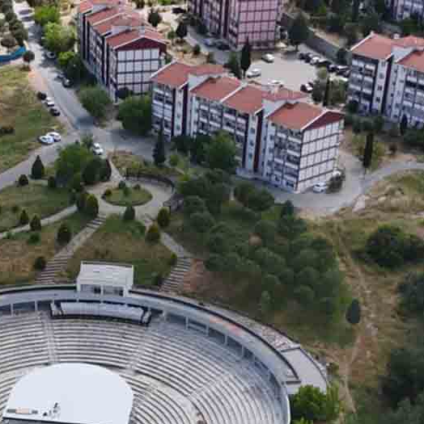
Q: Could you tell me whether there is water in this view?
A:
No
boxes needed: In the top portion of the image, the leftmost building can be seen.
[79,0,178,103]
